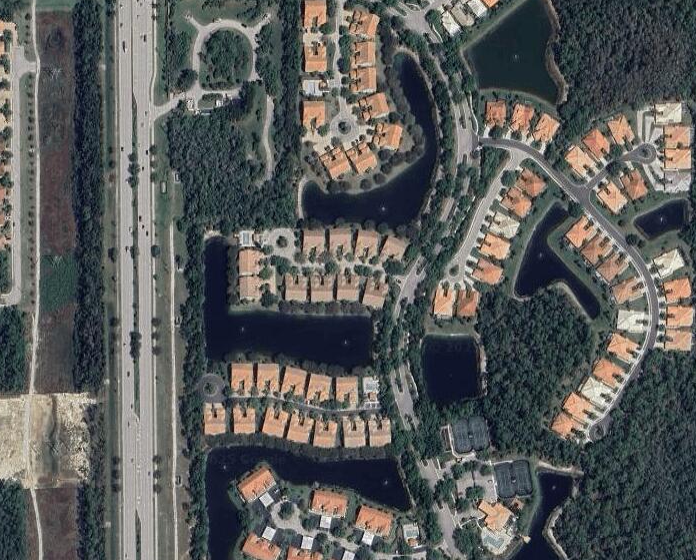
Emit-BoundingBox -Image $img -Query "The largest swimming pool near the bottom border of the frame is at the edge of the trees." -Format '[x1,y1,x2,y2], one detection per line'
[481,529,512,555]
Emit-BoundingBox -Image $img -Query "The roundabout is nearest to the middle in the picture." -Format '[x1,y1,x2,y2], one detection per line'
[265,225,298,258]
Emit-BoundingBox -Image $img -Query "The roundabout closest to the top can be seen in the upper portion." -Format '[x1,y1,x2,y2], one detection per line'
[327,112,358,143]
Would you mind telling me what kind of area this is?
residential area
